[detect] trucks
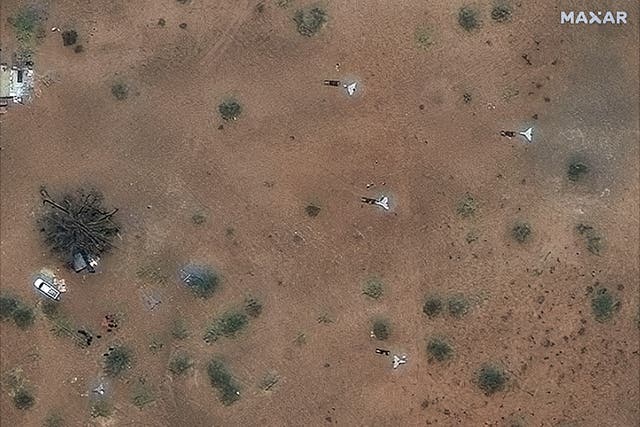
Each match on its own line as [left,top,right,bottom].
[34,280,60,301]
